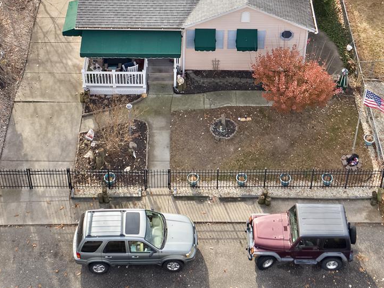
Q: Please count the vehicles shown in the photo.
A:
2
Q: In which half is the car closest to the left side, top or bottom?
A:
bottom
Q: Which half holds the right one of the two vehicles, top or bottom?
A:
bottom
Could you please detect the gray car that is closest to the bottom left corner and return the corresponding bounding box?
[70,205,200,275]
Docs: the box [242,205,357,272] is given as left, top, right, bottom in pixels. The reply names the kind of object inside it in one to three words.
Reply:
vehicle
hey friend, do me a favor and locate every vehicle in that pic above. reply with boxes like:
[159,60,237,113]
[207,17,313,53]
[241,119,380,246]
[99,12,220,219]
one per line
[242,205,357,272]
[70,205,200,275]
